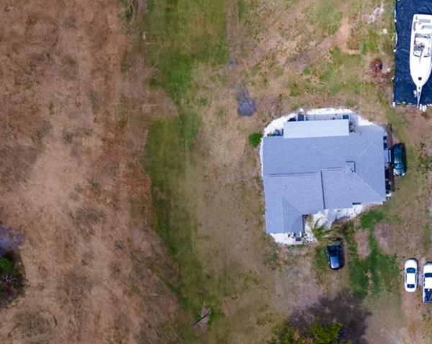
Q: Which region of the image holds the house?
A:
right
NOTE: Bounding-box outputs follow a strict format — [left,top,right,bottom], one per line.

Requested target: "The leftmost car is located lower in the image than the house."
[327,243,342,271]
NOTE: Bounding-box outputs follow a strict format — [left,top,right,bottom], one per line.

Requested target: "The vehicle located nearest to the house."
[392,142,407,177]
